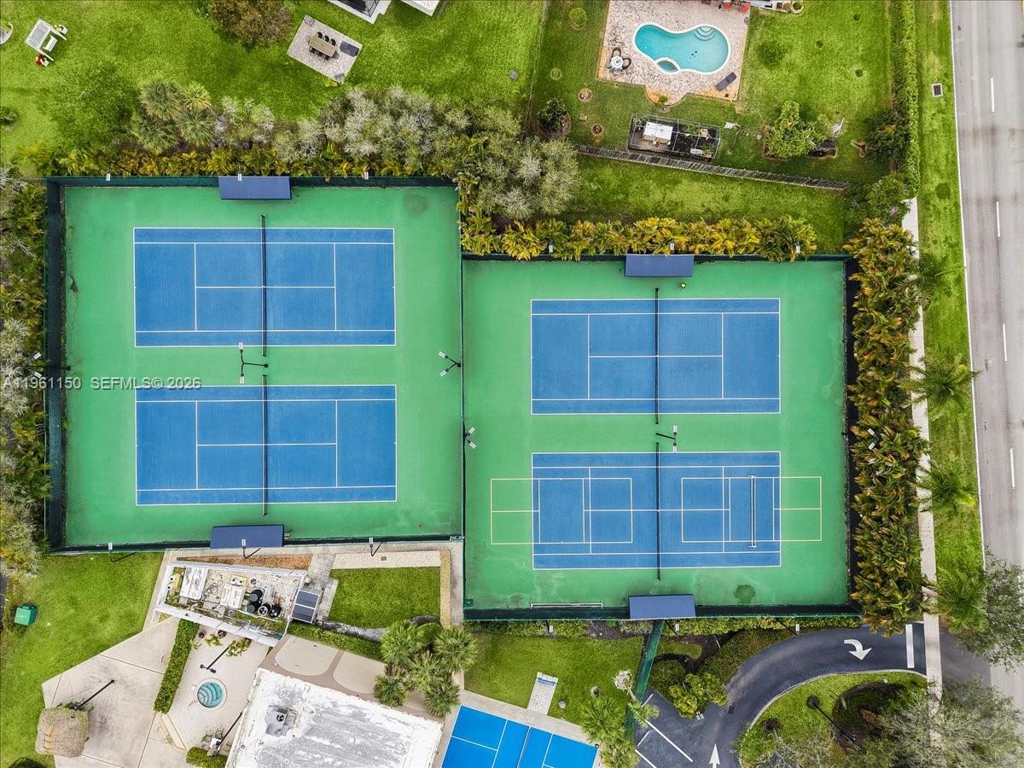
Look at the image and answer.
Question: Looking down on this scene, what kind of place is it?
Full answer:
What you see here is a sports ground.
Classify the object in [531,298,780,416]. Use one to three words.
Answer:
tennis court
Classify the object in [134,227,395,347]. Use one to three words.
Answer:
tennis court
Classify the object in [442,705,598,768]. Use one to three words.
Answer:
sports court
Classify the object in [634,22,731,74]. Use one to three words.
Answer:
swimming pool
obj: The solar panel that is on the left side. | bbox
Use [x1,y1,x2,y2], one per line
[292,586,323,622]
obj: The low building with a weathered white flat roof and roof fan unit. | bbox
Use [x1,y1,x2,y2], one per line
[224,669,445,768]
